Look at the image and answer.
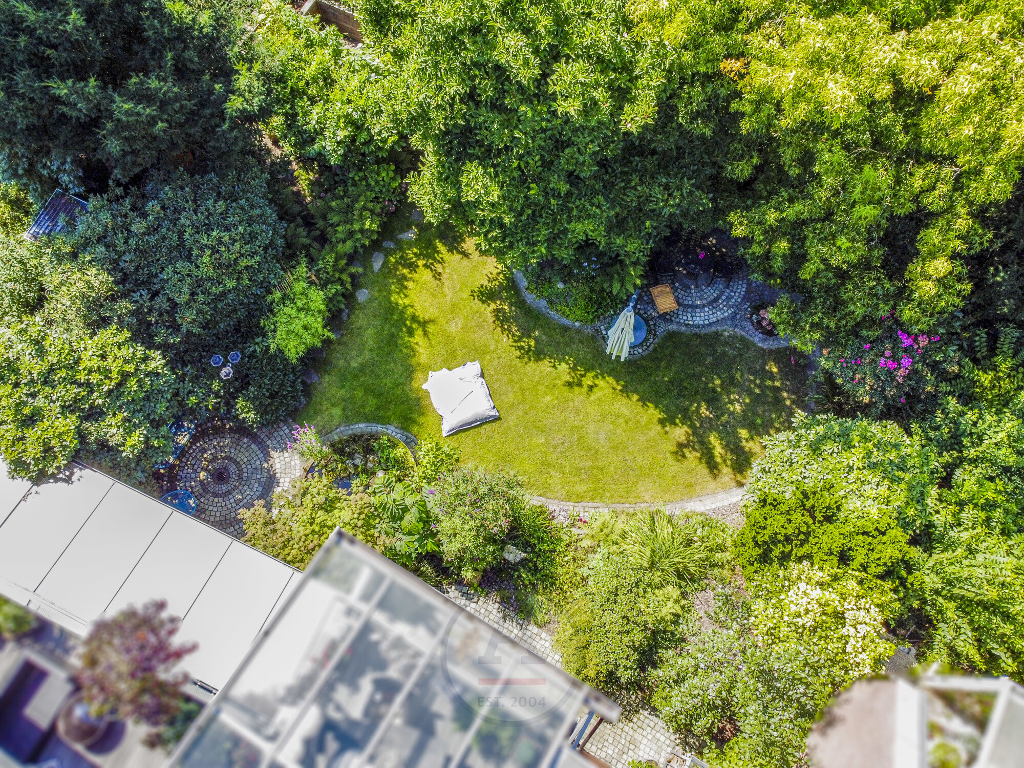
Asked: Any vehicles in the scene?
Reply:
No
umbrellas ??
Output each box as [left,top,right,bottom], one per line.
[606,288,647,361]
